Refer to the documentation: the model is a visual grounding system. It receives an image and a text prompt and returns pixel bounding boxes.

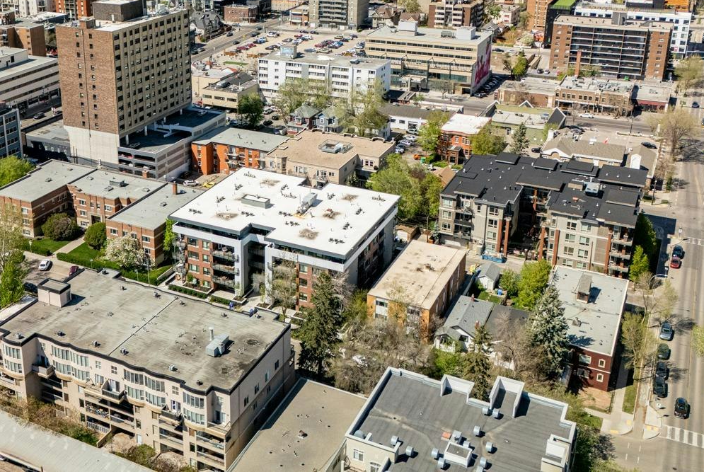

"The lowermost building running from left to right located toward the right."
[345,367,579,472]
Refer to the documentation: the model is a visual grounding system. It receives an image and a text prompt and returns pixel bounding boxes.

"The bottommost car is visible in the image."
[675,399,689,417]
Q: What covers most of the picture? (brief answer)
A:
buildings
